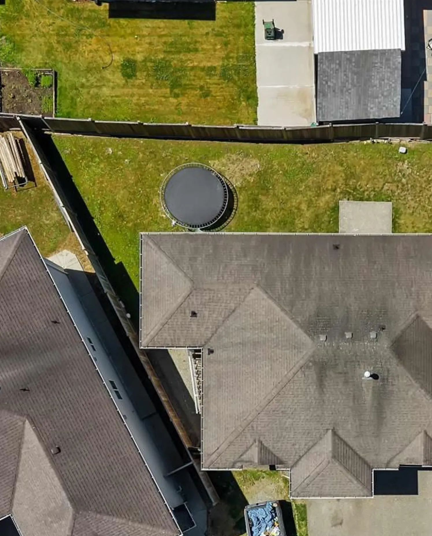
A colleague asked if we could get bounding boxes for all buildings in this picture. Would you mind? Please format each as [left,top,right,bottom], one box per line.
[138,231,432,501]
[0,224,194,536]
[317,52,402,135]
